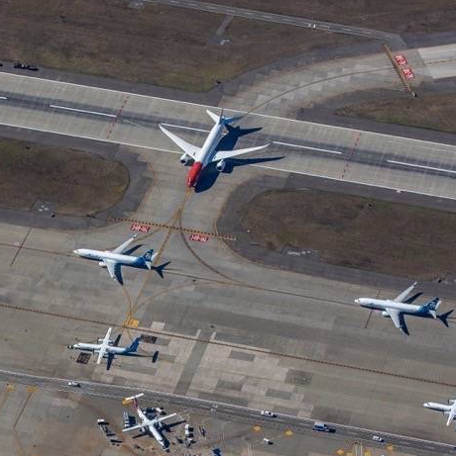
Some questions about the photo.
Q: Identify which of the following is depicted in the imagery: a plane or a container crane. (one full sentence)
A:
Visible in the photo is a plane.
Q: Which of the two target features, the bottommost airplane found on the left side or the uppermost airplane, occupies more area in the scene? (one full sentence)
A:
The larger object is the uppermost airplane, with the bottommost airplane found on the left side being the smaller of the pair.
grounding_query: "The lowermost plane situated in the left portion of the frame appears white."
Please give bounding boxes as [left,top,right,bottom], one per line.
[125,398,182,450]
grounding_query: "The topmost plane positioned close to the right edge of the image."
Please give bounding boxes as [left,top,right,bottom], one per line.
[356,283,439,328]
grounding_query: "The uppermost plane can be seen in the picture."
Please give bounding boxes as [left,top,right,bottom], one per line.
[157,97,267,186]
